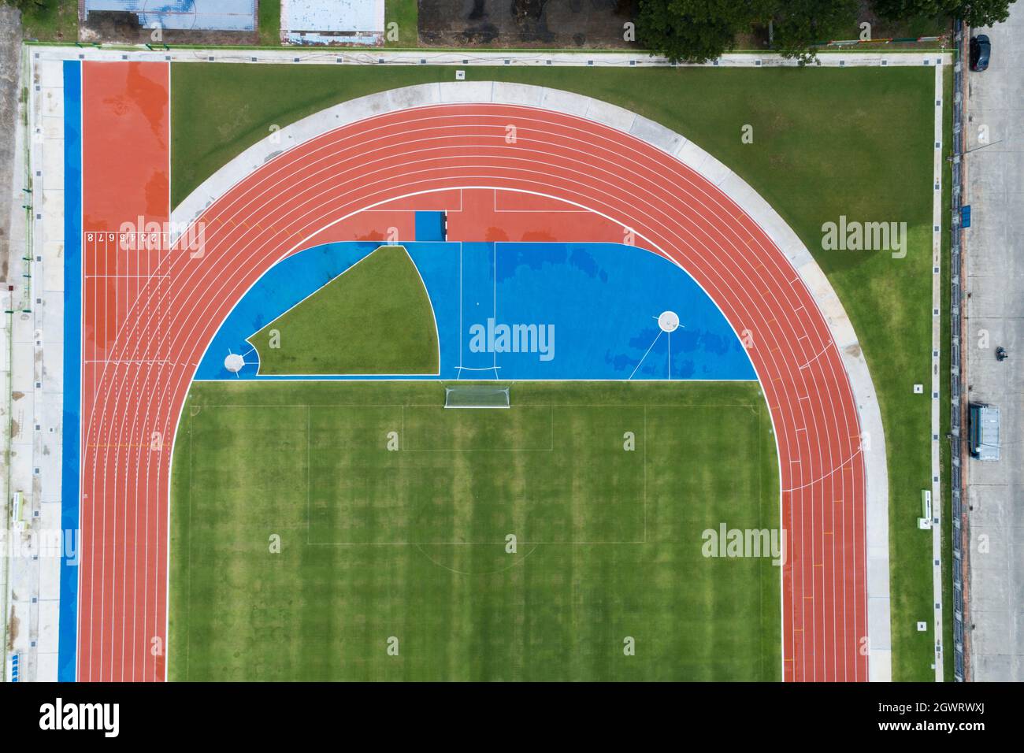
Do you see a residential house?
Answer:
No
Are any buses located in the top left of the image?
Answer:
No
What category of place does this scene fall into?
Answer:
sports ground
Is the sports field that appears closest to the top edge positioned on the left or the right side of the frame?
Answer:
left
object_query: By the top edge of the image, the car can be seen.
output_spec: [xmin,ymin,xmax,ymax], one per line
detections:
[970,34,992,72]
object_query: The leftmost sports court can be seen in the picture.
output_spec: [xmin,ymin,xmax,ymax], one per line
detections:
[78,0,258,45]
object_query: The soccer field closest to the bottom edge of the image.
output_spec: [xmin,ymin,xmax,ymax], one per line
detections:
[164,381,785,753]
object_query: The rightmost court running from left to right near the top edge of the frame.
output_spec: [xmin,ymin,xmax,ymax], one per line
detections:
[280,0,385,47]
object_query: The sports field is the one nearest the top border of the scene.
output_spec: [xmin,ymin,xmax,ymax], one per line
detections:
[245,245,440,375]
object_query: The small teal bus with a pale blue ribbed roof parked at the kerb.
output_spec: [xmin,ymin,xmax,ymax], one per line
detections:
[969,403,1000,459]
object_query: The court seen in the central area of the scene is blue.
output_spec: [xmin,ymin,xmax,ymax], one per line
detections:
[191,240,759,382]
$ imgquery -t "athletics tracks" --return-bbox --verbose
[73,61,873,753]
